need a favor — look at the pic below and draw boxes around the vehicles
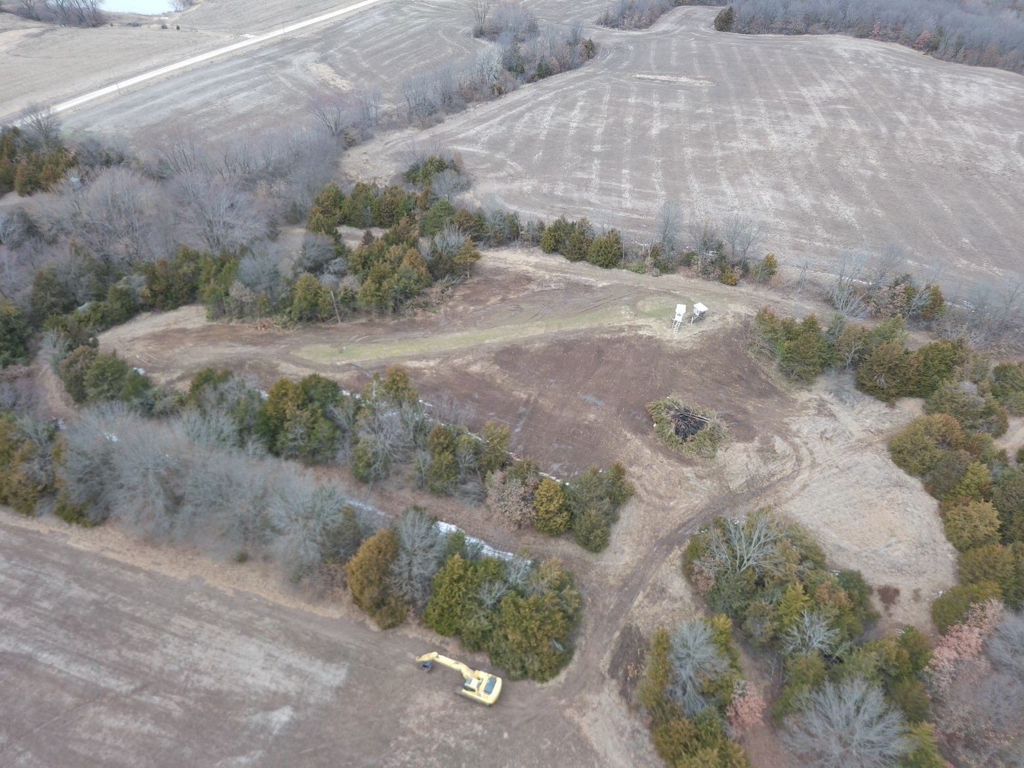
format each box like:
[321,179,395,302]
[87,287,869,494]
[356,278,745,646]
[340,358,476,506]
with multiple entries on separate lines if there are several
[414,650,501,712]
